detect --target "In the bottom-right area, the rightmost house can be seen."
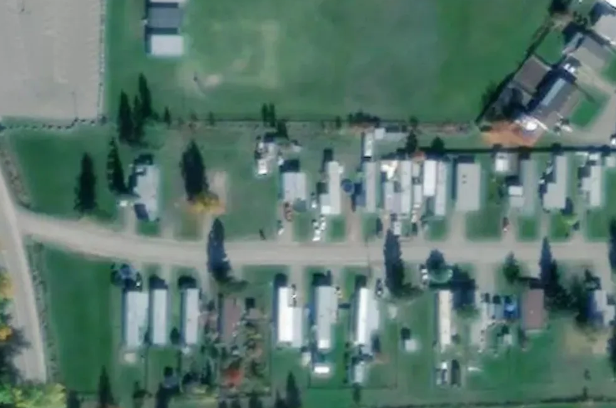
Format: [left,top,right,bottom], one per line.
[591,290,615,326]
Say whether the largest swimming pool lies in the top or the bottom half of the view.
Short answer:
bottom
